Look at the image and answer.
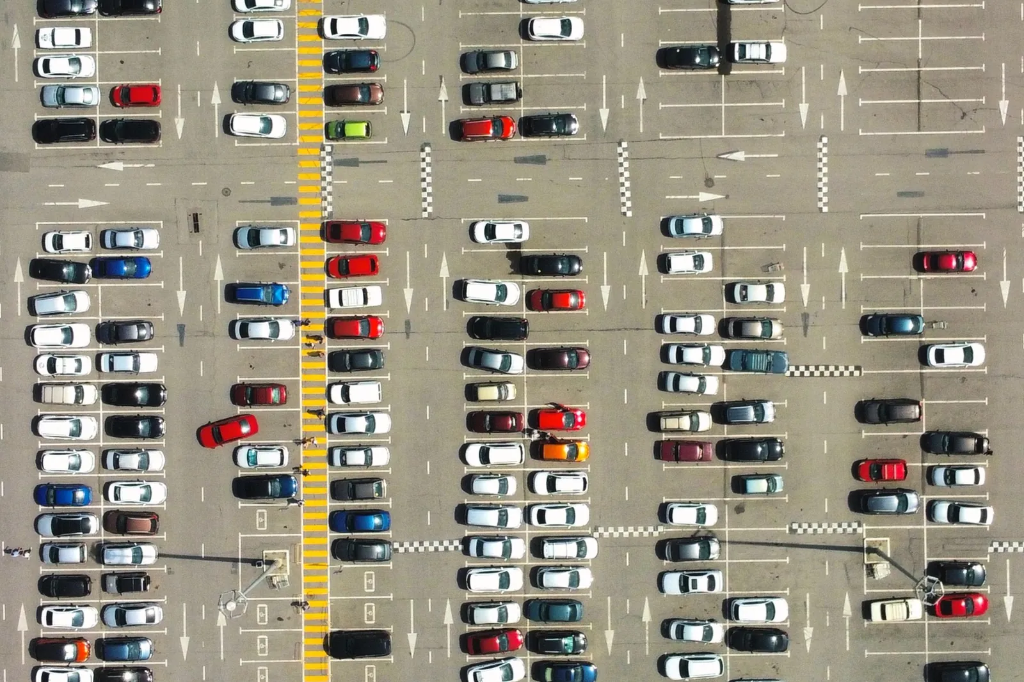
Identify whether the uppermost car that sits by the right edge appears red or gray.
red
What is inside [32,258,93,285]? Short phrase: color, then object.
black car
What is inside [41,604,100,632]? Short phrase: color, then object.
white car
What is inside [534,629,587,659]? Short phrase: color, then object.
black car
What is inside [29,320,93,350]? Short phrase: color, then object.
white car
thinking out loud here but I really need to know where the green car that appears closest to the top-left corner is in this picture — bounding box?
[325,117,372,143]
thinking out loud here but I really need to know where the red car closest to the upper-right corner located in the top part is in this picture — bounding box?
[922,248,977,275]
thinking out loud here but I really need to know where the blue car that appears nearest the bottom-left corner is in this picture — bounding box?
[102,636,154,664]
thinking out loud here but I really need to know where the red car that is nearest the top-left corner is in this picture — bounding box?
[112,82,162,109]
